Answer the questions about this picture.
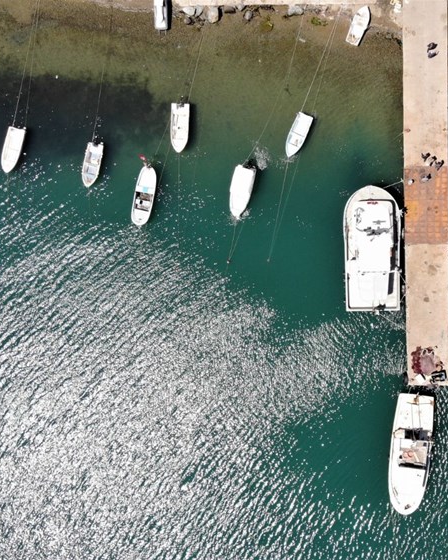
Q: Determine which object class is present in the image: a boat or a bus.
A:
boat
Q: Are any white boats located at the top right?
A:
Yes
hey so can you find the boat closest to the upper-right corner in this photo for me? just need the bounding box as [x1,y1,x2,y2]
[346,5,370,47]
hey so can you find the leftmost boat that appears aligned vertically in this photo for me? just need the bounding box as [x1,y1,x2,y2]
[1,126,25,173]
